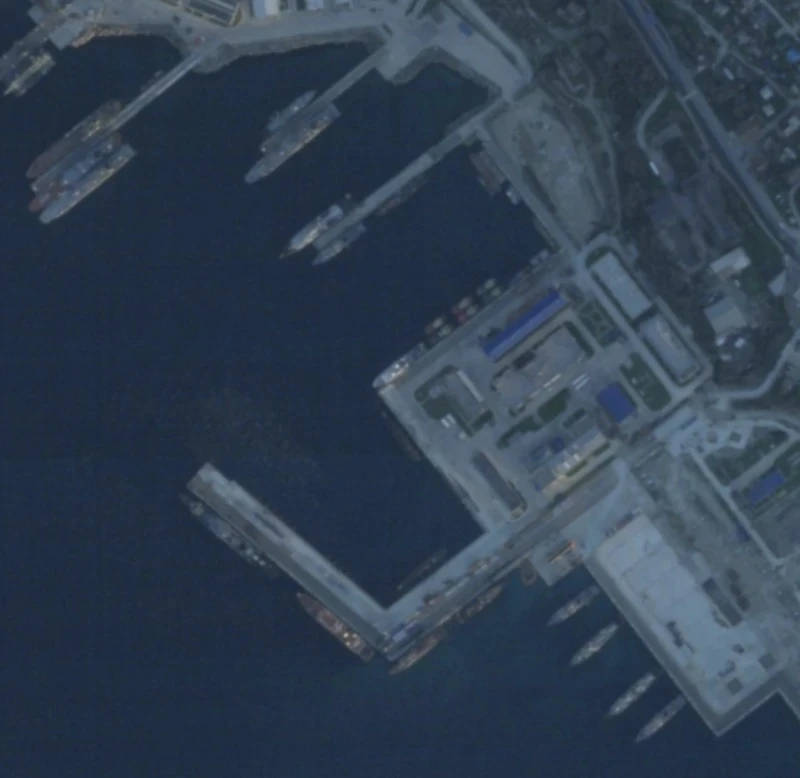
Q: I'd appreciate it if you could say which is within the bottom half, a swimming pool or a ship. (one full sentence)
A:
Looking within the bottom half, you will find a ship.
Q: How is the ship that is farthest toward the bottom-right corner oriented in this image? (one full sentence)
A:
In this picture, the ship that is farthest toward the bottom-right corner is oriented diagonally.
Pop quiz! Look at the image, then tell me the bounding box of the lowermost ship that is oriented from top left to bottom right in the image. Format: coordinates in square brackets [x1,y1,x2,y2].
[297,594,378,666]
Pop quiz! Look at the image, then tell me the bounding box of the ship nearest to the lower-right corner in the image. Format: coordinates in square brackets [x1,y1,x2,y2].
[637,694,688,743]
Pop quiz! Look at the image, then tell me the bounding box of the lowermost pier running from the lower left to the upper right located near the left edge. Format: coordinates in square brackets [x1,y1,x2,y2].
[34,52,202,190]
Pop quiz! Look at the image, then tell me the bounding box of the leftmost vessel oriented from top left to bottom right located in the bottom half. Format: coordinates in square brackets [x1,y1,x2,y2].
[177,491,284,583]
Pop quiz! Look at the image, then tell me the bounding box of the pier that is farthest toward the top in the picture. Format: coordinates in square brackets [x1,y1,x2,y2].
[0,20,58,74]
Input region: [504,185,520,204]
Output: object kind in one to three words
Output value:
boat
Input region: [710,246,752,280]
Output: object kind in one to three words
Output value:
building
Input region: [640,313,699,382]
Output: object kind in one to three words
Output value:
building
